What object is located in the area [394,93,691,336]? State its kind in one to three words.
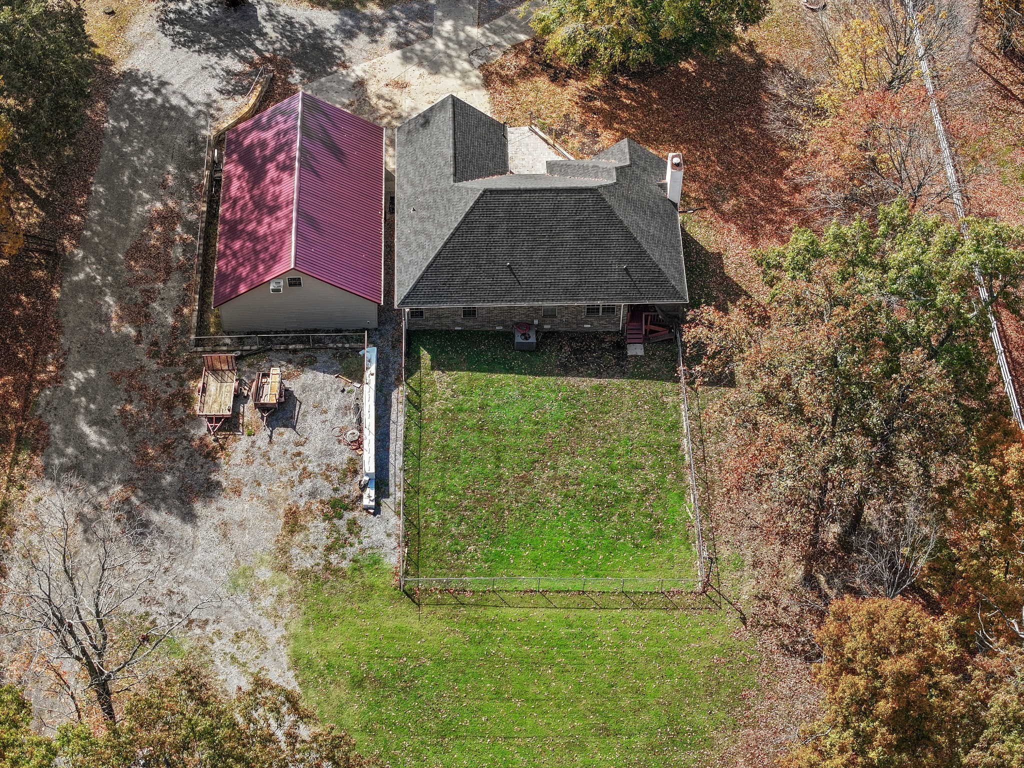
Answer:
house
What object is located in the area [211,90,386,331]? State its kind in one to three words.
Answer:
building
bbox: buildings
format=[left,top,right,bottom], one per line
[394,93,691,336]
[211,90,386,331]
